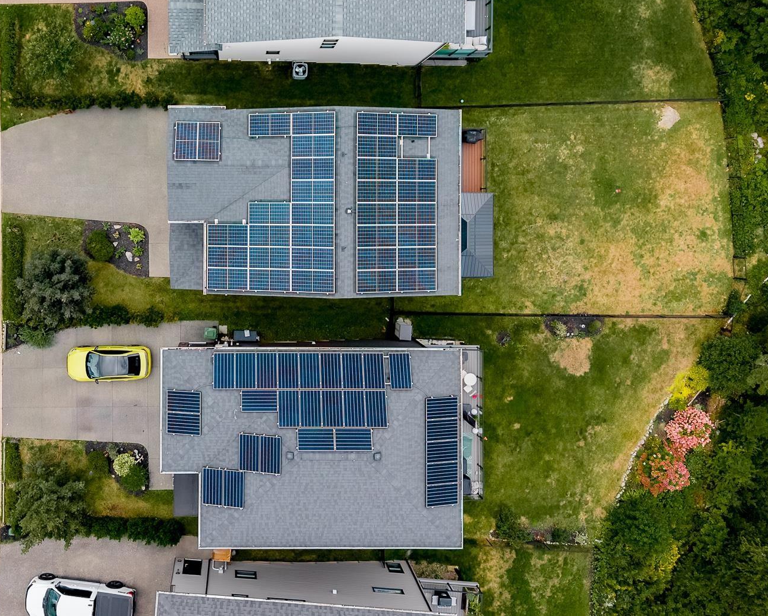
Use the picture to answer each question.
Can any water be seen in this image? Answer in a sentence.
No, there is no water in the image.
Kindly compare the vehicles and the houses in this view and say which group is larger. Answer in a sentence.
Here, houses are more common than vehicles.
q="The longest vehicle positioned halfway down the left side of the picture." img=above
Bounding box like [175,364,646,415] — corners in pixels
[68,343,152,384]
